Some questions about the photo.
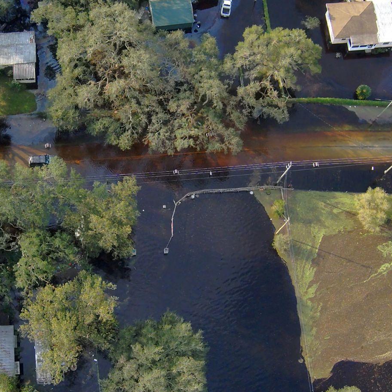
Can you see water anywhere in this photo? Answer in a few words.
Yes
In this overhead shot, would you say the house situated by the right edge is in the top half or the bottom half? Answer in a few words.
top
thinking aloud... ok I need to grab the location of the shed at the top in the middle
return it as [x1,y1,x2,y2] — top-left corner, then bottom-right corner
[149,0,194,39]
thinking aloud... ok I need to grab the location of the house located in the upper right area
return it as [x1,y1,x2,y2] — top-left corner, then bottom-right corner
[323,0,392,54]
